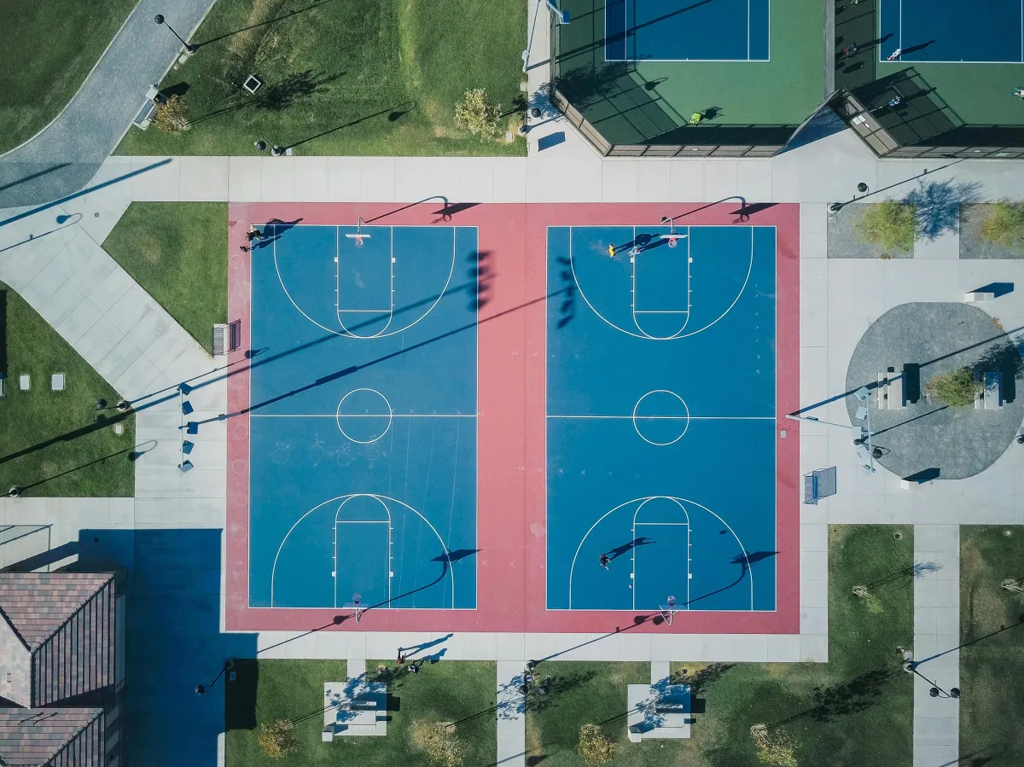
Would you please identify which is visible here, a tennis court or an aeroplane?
tennis court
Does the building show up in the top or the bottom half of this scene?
bottom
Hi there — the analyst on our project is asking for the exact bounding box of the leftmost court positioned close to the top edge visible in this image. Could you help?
[605,0,770,61]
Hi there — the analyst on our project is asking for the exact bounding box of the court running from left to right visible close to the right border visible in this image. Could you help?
[880,0,1024,62]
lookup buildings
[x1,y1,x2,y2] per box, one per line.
[0,569,128,767]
